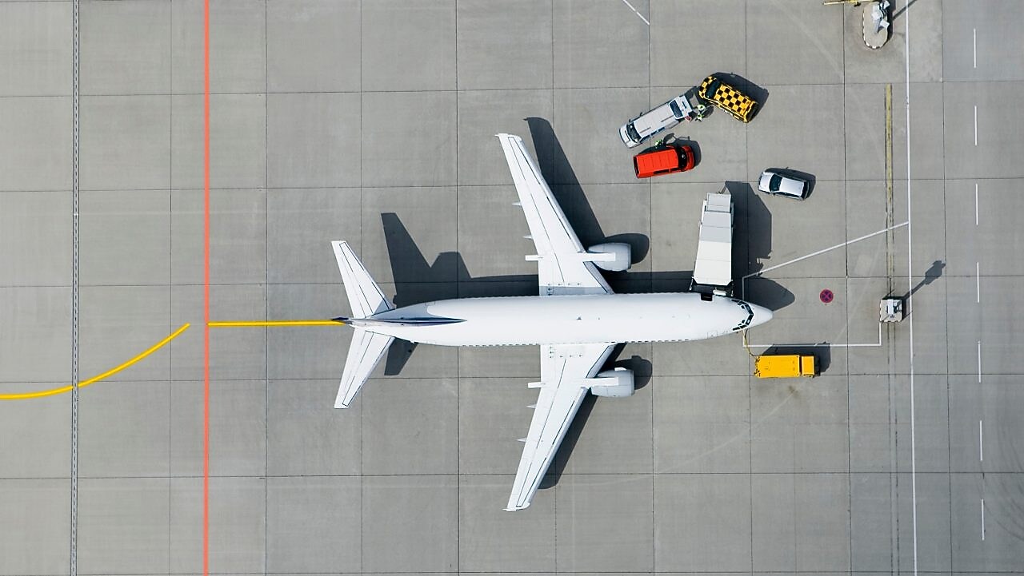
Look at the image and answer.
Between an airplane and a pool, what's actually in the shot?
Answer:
airplane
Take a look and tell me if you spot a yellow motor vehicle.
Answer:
Yes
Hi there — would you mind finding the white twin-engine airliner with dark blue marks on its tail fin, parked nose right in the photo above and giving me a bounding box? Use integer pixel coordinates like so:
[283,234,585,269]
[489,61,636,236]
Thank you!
[332,133,773,510]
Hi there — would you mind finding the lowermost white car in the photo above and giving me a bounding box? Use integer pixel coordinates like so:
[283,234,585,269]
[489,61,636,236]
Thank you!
[757,170,810,201]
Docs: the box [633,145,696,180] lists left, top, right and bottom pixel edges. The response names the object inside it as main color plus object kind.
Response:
red van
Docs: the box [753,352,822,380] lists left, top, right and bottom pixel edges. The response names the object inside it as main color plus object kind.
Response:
yellow truck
